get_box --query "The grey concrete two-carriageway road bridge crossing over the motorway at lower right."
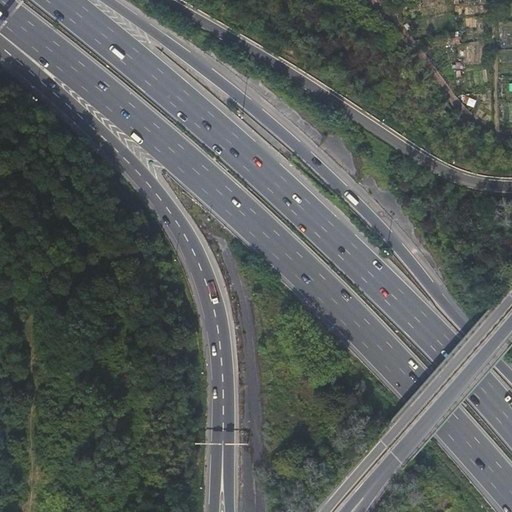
[374,289,512,466]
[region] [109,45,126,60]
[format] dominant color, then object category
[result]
white vehicle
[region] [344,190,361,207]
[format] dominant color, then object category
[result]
white vehicle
